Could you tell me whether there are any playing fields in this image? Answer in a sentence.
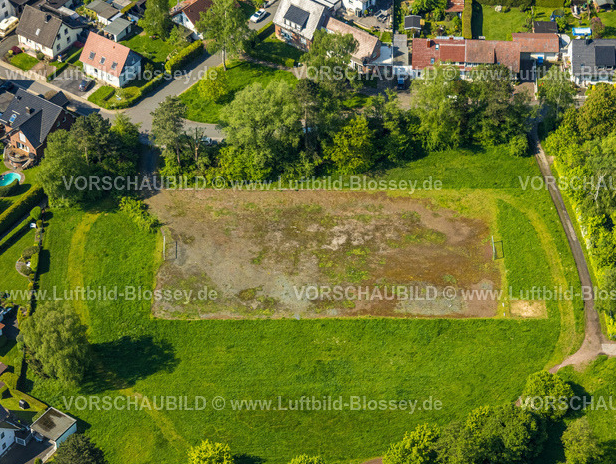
Yes, the picture does show a playing field.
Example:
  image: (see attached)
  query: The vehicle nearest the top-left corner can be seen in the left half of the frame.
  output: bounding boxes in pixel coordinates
[0,12,19,35]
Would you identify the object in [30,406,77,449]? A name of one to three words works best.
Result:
building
